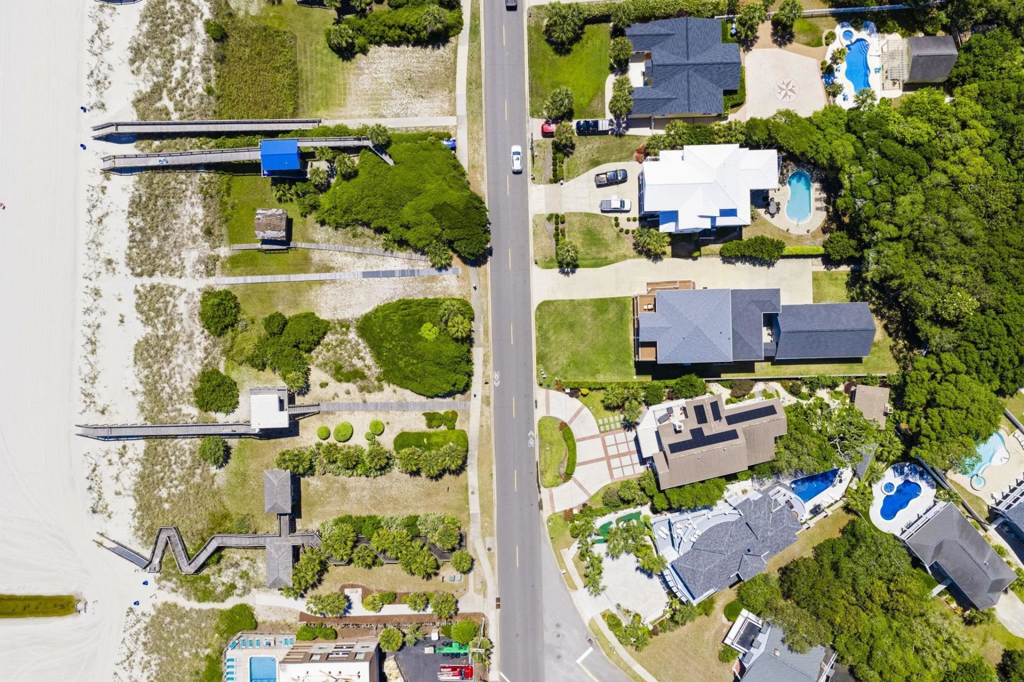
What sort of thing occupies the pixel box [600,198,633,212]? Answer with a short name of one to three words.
vehicle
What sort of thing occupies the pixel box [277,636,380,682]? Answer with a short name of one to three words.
building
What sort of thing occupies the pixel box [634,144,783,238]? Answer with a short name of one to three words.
house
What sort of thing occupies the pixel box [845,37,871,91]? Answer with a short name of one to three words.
swimming pool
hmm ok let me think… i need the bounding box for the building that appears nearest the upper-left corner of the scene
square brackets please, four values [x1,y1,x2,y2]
[260,138,309,180]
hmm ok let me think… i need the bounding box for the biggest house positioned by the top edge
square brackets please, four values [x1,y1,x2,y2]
[626,17,740,123]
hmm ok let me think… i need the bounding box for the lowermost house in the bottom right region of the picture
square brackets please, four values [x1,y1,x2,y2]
[715,598,825,682]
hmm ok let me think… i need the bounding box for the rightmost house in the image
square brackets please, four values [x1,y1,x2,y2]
[978,470,1024,552]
